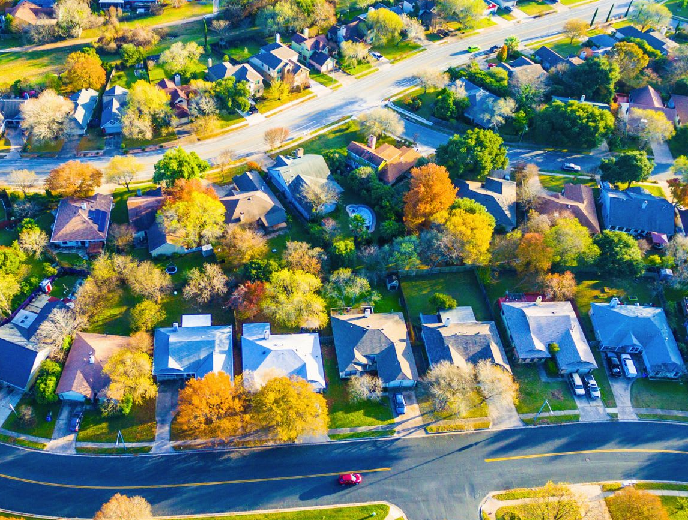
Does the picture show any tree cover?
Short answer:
Yes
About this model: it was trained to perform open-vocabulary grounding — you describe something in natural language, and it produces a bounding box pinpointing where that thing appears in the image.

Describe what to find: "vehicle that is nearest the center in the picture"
[394,394,406,412]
